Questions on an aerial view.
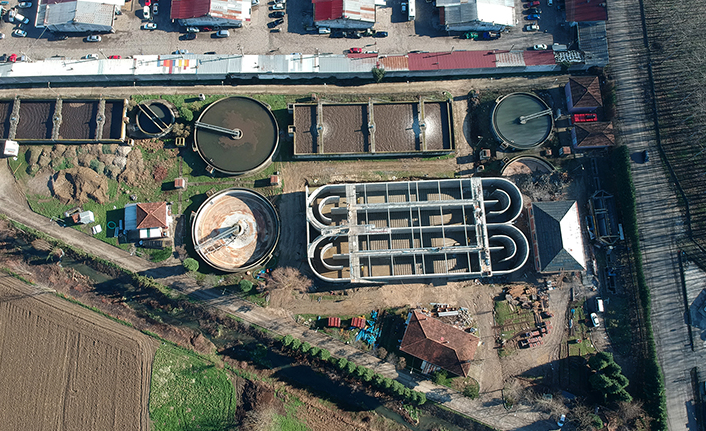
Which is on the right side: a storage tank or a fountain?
storage tank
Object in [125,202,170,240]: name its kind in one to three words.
house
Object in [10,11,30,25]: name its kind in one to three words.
vehicle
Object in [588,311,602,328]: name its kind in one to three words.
vehicle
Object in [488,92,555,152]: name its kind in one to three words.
storage tank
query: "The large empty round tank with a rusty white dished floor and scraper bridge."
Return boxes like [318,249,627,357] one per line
[188,187,282,276]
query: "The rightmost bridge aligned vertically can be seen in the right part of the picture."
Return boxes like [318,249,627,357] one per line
[470,177,494,277]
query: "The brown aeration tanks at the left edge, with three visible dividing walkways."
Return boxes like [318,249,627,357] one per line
[0,100,132,143]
